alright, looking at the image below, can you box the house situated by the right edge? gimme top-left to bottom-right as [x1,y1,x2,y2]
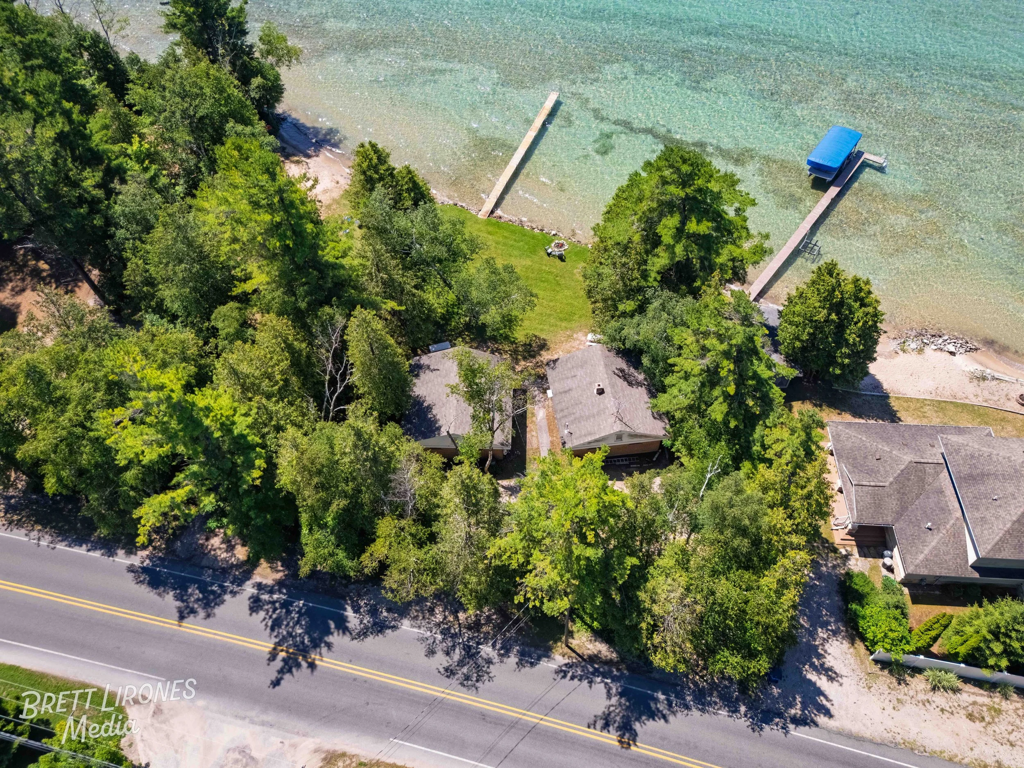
[822,420,1024,590]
